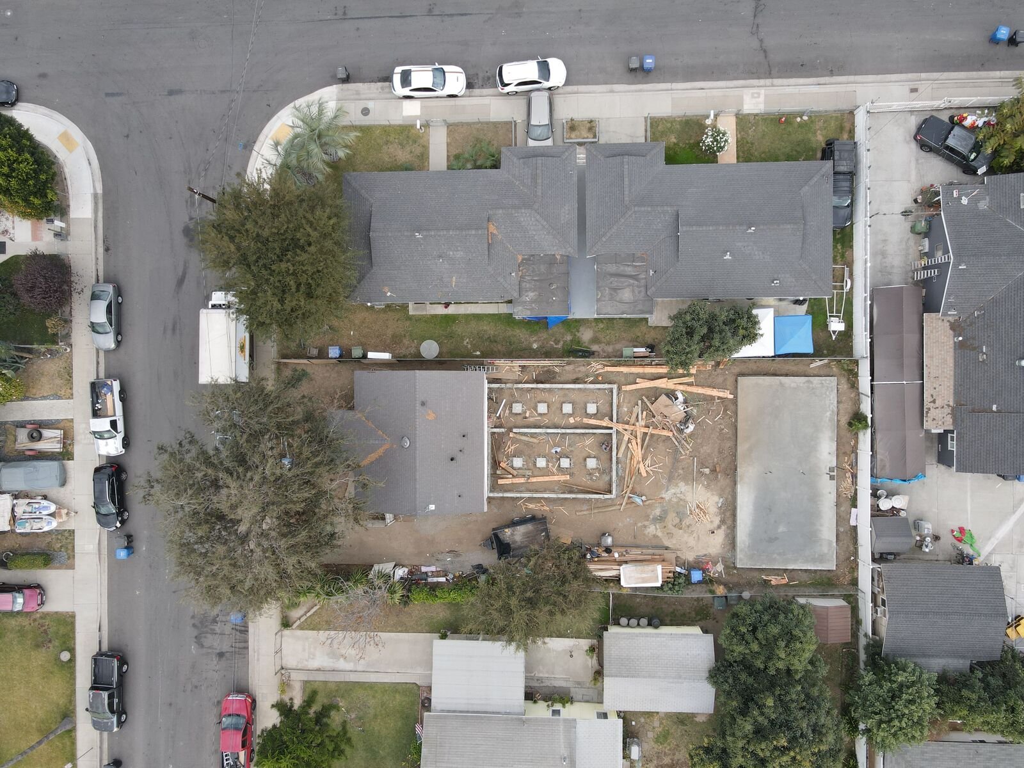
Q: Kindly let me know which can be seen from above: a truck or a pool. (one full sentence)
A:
Looking from above, you can make out a truck.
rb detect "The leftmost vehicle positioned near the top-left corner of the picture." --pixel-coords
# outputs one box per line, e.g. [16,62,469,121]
[0,80,23,110]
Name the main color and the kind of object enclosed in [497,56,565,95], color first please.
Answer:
white car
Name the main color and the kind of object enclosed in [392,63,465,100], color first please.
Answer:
white car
